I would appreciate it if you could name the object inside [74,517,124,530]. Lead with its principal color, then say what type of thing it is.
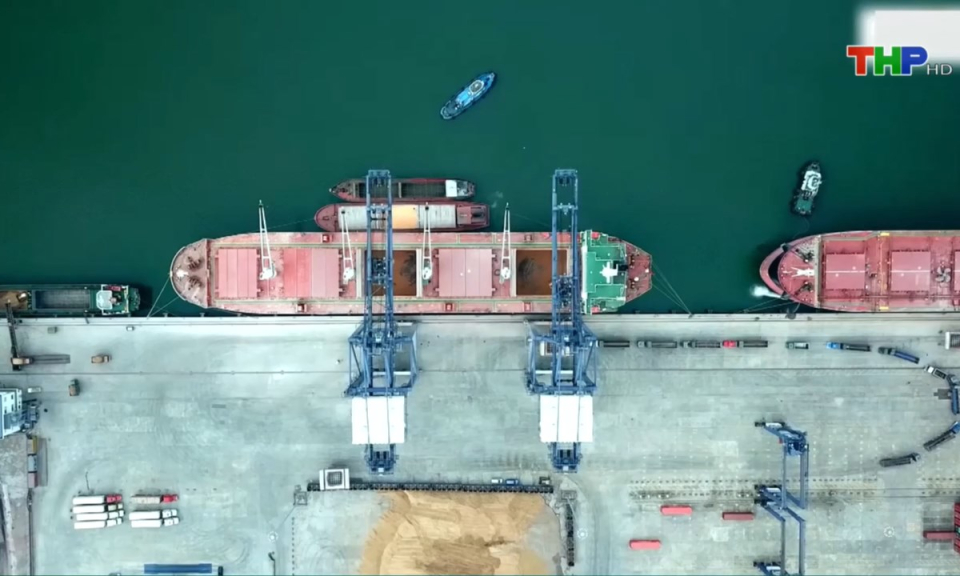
white vehicle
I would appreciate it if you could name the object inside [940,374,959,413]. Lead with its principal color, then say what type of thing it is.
blue vehicle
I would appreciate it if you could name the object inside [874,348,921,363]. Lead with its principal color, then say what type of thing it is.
blue vehicle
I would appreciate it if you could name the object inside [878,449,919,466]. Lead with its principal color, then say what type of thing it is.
gray vehicle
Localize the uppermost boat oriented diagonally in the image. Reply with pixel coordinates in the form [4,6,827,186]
[438,68,497,122]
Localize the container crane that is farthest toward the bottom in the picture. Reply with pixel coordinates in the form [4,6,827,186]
[755,497,809,576]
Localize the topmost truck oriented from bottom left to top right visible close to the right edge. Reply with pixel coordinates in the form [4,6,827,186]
[922,421,960,451]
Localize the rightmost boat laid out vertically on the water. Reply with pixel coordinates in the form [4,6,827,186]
[794,158,826,217]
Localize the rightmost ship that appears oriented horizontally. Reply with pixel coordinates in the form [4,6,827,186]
[746,230,960,314]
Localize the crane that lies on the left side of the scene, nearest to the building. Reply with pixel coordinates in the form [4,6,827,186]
[3,296,34,372]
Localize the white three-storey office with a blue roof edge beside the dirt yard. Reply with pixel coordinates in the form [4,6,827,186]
[0,387,29,445]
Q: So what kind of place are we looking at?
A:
port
